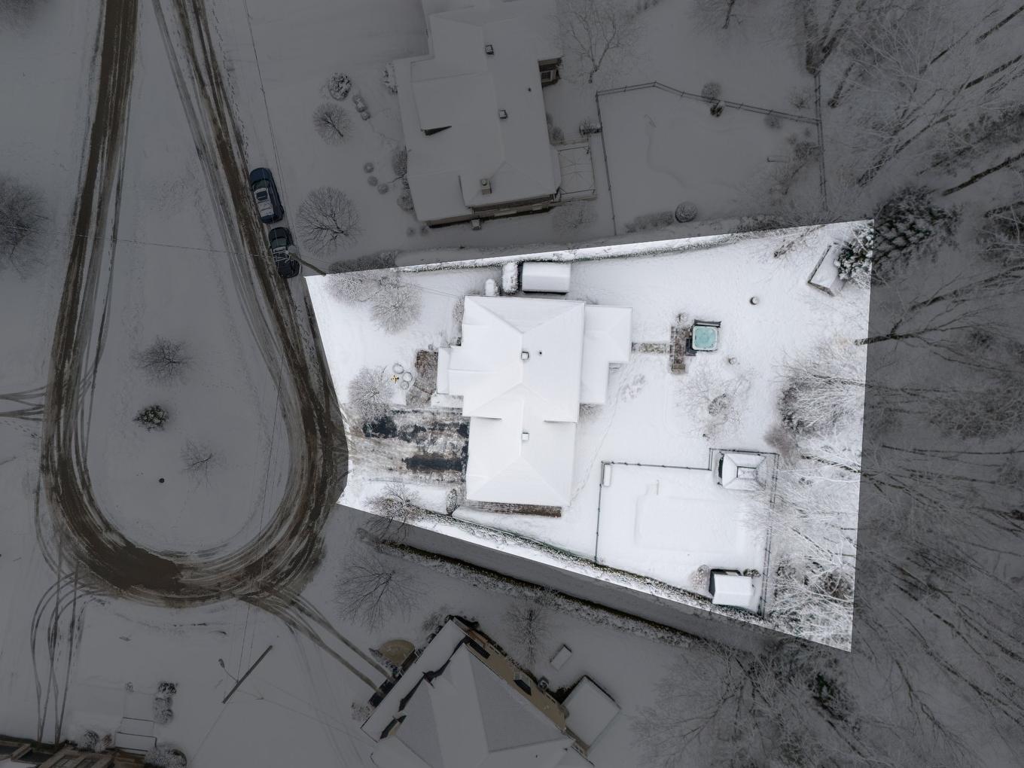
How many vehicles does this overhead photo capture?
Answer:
2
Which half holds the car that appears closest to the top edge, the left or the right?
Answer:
left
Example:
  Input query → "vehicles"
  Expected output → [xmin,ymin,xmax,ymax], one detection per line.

[266,222,301,283]
[247,163,283,225]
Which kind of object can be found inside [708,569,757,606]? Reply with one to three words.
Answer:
shed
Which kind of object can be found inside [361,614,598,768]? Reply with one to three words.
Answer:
house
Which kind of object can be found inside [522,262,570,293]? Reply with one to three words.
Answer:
shed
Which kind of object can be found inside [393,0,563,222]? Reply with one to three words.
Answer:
house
